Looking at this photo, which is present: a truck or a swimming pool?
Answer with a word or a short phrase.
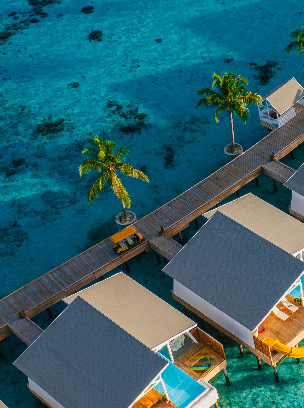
swimming pool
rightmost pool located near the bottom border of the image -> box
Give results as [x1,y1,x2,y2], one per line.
[154,353,207,407]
